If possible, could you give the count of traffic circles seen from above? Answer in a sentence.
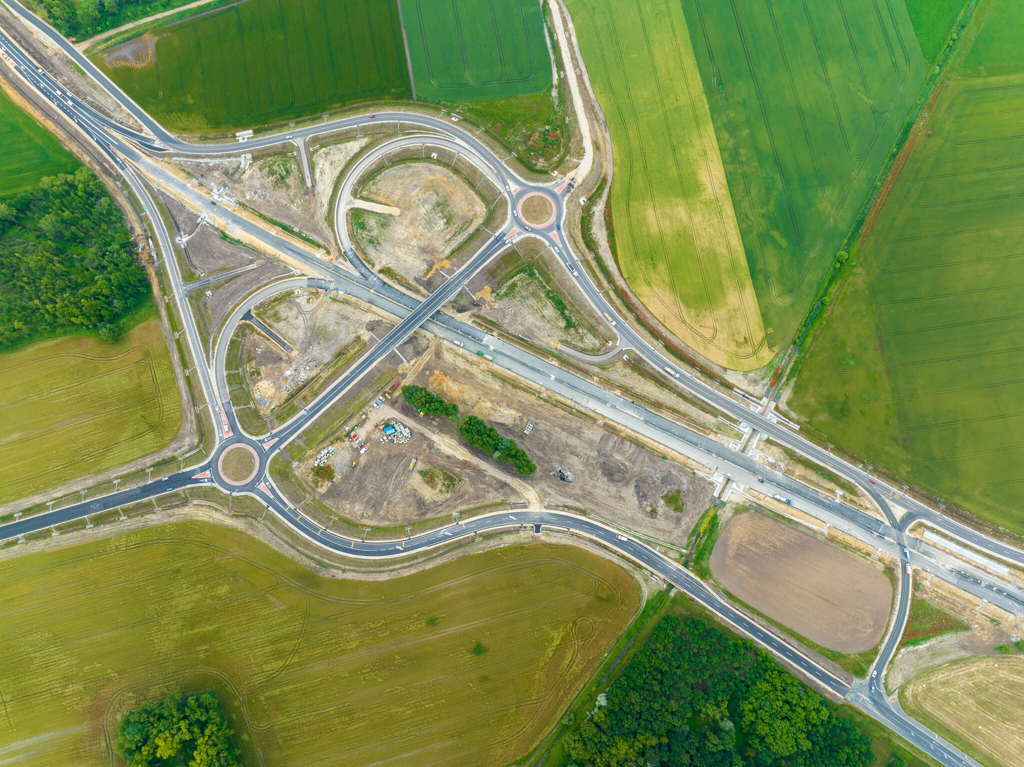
I count 2 traffic circles.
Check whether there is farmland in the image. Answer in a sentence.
Yes, the picture does contain farmland.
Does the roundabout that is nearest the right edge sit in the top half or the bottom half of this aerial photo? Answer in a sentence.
You can find the roundabout that is nearest the right edge in the top half.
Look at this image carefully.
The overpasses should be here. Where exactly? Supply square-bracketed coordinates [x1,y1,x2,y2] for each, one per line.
[383,278,457,354]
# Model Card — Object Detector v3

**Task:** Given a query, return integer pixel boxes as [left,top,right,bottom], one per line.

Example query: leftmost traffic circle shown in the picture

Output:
[181,393,305,510]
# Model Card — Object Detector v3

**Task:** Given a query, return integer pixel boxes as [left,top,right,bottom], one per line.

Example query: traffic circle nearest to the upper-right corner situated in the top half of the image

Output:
[481,165,580,262]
